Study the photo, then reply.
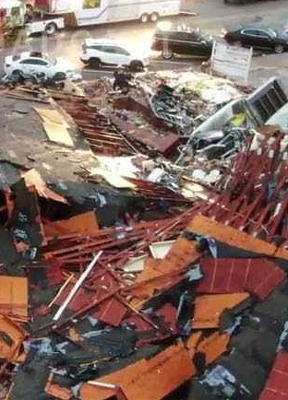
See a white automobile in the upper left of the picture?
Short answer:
Yes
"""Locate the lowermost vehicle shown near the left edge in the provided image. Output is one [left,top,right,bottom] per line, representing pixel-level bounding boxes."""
[0,48,77,78]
